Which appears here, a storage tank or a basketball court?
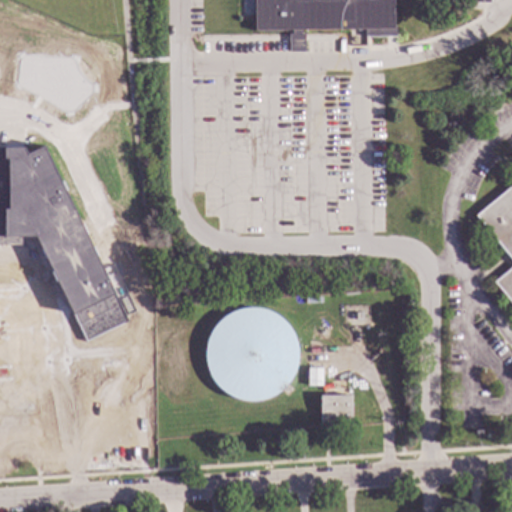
storage tank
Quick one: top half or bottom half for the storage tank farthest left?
bottom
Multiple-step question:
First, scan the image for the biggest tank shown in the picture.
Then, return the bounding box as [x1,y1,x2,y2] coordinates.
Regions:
[208,308,300,400]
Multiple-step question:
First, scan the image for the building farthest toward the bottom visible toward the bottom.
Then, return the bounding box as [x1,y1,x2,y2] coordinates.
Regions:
[322,394,354,420]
